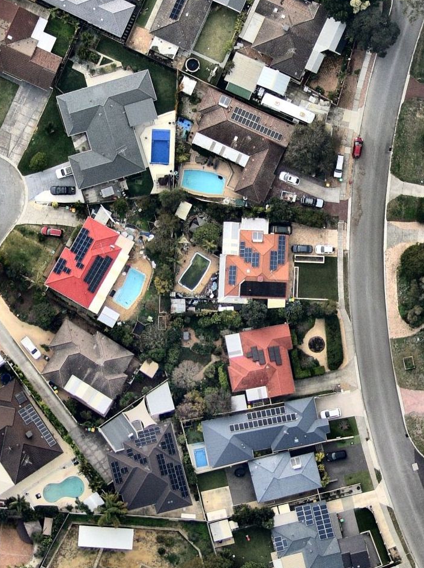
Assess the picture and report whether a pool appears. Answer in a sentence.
Yes, the picture does show a pool.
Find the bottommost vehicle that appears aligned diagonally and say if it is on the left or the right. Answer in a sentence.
The bottommost vehicle that appears aligned diagonally sits on the left side.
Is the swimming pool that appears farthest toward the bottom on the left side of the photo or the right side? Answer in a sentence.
You can find the swimming pool that appears farthest toward the bottom on the left side of the picture.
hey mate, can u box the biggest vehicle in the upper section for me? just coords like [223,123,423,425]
[258,91,317,122]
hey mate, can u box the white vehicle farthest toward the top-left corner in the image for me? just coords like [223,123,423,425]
[52,166,72,180]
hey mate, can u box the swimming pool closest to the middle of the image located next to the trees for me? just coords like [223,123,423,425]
[177,253,212,291]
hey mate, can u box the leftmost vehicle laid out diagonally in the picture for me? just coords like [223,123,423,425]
[19,337,41,359]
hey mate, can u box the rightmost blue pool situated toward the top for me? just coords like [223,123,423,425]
[182,169,226,195]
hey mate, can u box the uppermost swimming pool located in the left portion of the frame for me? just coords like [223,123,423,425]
[150,129,170,165]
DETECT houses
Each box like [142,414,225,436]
[218,218,290,308]
[271,503,370,568]
[224,0,345,99]
[0,0,61,88]
[189,88,294,203]
[247,452,323,504]
[139,0,213,59]
[43,0,134,37]
[54,69,156,189]
[41,320,133,417]
[201,396,330,469]
[0,381,62,495]
[97,397,192,514]
[224,323,295,412]
[43,217,133,314]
